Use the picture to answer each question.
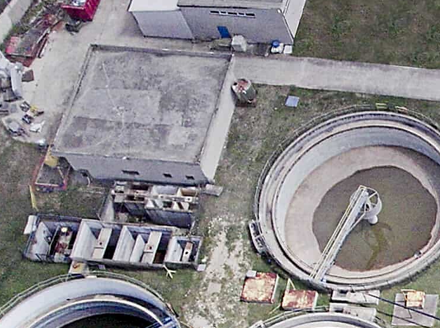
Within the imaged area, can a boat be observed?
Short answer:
No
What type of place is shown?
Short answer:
industrial area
